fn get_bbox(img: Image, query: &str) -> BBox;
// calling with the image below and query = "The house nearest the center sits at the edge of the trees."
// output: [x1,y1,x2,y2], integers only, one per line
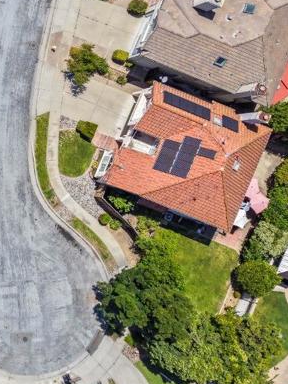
[88,82,272,233]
